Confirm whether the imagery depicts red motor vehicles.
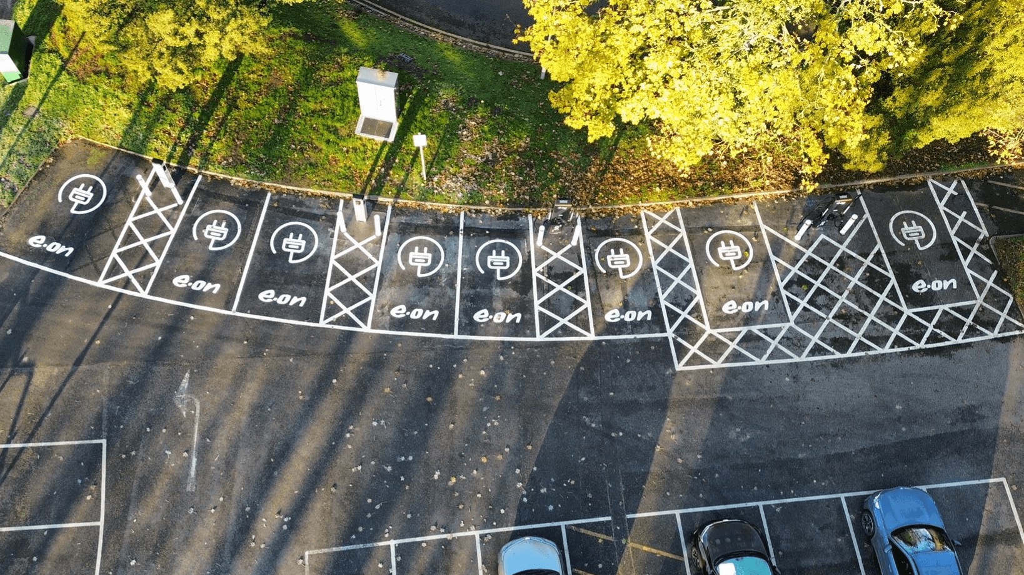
No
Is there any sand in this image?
No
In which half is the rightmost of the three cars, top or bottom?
bottom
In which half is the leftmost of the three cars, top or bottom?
bottom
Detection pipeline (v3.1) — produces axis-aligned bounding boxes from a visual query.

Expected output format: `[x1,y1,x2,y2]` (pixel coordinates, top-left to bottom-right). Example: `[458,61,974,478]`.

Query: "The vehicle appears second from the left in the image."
[697,519,775,575]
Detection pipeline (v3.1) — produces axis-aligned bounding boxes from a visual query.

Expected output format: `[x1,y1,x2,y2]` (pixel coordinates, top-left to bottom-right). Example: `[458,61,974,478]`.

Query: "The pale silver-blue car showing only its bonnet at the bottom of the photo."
[499,536,566,575]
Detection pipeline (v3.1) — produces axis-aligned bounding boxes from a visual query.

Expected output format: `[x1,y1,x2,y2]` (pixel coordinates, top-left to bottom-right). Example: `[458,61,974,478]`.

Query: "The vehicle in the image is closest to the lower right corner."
[870,489,968,575]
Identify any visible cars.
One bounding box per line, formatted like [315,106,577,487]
[499,536,566,575]
[870,489,968,575]
[697,519,775,575]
